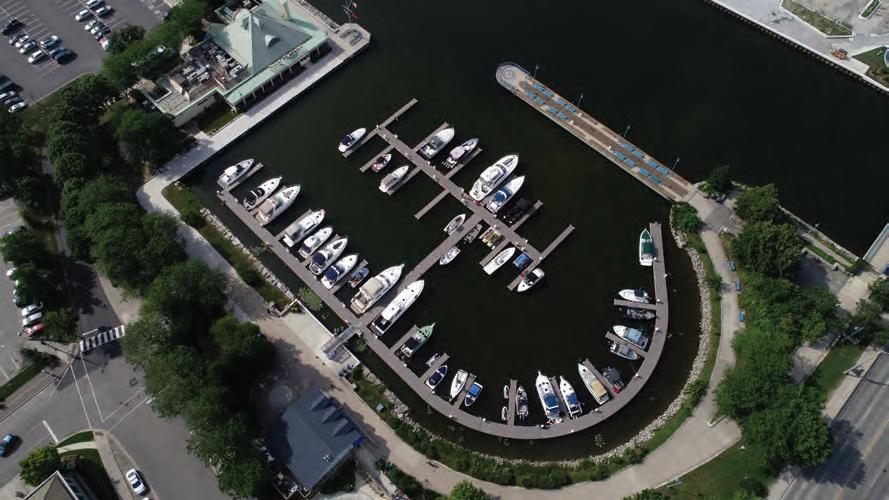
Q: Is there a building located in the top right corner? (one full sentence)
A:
No, no building can be made out in the top right corner.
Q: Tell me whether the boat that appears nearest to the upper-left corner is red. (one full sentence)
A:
No, the color of the boat that appears nearest to the upper-left corner is white.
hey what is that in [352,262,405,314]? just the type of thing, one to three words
boat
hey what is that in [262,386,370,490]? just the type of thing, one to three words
building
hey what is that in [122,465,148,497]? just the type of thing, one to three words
car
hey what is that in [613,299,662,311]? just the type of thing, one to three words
pier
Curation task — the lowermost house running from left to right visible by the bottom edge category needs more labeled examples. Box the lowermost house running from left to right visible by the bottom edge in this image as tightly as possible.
[16,467,93,500]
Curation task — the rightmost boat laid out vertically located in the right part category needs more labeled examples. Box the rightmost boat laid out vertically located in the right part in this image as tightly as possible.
[635,227,654,267]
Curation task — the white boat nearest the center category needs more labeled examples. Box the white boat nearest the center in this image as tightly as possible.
[439,246,462,265]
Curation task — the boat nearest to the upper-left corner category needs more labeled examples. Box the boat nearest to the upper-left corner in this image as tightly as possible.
[216,158,254,191]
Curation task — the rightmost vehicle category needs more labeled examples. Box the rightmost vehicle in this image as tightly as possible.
[826,43,852,58]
